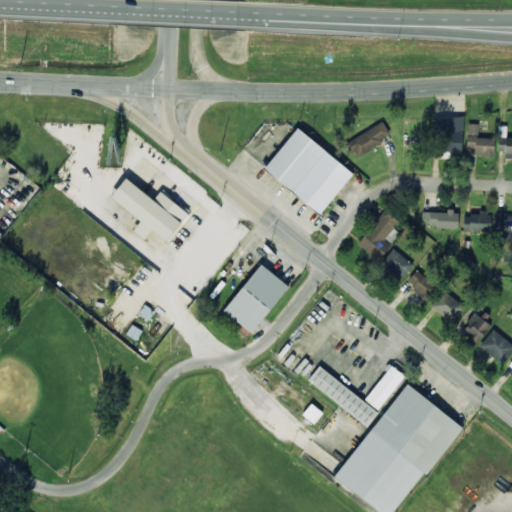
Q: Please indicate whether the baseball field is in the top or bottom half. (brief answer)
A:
bottom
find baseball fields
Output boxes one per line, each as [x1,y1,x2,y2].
[0,292,102,476]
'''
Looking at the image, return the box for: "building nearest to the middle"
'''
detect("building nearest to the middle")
[224,265,289,332]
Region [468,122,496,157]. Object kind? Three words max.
house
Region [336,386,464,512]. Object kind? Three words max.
warehouse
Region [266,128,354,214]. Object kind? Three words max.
building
